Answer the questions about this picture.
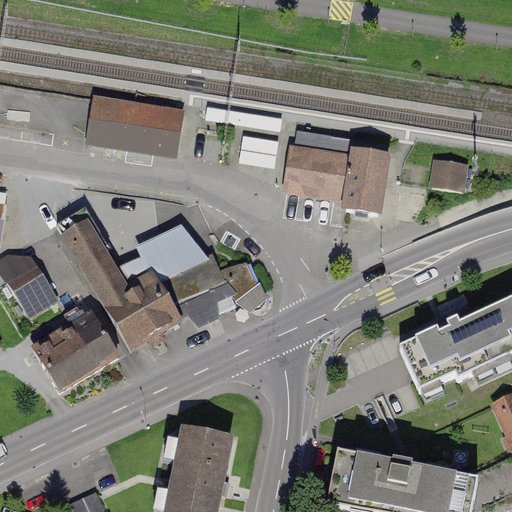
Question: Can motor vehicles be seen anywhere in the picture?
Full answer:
Yes, there's a motor vehicle here.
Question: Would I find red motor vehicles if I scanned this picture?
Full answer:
Yes, the picture does show a red motor vehicle.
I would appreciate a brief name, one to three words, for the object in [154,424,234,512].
house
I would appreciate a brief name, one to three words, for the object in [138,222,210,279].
building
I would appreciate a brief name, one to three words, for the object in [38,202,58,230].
vehicle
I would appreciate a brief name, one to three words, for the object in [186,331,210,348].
car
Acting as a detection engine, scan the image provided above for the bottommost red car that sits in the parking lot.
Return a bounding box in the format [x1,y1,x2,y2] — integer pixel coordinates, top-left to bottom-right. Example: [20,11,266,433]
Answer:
[24,494,48,510]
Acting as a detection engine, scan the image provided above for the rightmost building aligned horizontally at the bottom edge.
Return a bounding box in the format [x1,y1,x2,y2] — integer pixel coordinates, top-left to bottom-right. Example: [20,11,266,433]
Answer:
[326,446,481,512]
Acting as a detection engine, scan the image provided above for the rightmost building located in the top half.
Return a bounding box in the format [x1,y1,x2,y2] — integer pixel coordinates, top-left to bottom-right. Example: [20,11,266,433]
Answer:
[428,160,469,194]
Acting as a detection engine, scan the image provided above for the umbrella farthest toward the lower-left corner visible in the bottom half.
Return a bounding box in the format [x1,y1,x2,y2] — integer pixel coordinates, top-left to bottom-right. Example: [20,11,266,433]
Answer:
[236,308,250,322]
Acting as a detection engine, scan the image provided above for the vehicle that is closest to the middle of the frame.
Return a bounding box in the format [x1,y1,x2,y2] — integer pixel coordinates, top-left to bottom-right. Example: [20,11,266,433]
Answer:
[242,236,262,258]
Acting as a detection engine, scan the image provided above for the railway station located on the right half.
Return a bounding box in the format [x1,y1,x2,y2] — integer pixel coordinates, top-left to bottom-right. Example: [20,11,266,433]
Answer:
[282,130,391,222]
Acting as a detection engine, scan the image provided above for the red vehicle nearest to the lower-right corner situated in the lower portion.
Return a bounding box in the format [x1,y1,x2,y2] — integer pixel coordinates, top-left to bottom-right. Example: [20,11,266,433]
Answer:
[314,446,326,469]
